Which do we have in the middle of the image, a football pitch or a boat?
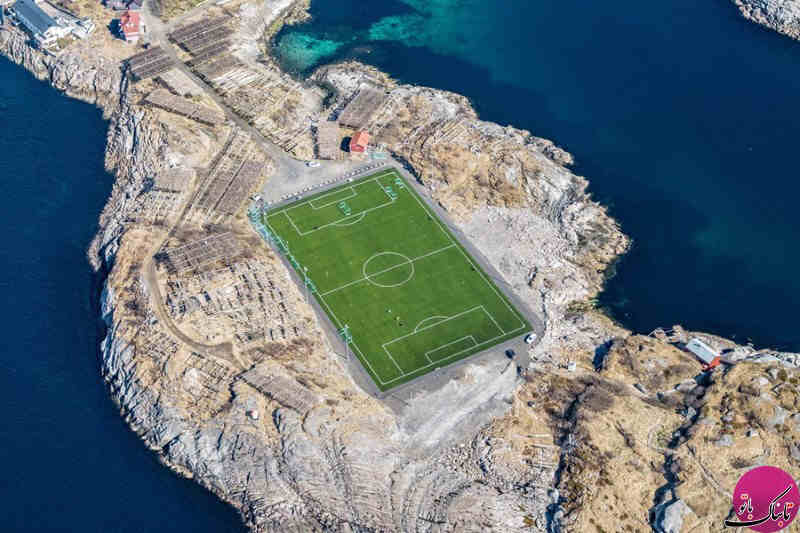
football pitch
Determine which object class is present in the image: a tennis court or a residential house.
residential house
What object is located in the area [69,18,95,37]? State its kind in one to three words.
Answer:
building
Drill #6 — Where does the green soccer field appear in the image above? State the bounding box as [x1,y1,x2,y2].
[261,166,532,391]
